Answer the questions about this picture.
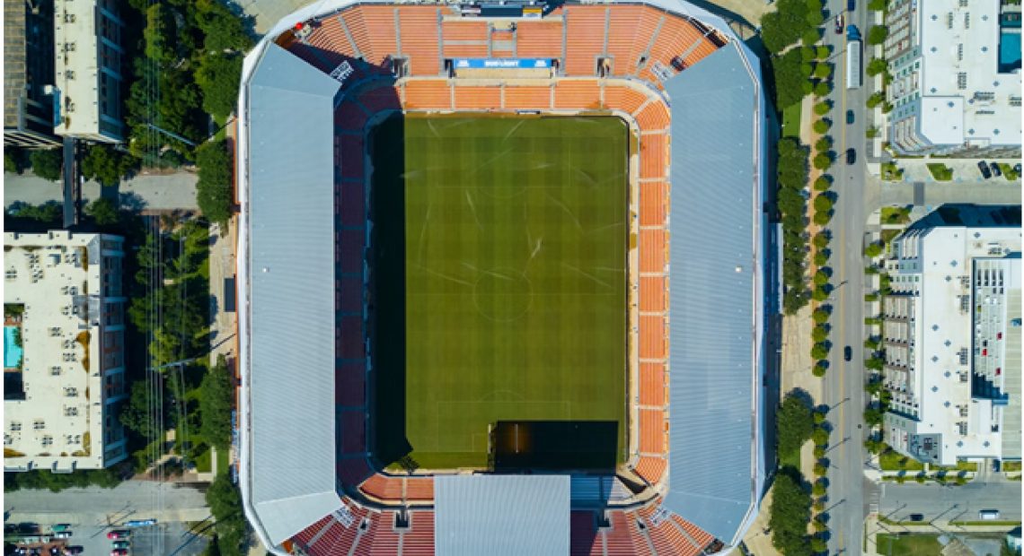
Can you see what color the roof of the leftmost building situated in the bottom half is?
white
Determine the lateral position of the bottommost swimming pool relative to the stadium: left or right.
to its left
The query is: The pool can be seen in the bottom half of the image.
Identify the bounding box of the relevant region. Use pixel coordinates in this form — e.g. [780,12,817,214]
[0,314,22,375]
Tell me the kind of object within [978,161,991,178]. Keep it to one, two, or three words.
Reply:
vehicle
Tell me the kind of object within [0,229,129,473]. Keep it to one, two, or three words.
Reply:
building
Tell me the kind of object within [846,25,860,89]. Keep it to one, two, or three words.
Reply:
vehicle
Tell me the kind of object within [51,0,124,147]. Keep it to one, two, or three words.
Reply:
building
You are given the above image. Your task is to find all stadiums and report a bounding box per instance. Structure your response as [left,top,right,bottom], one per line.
[238,0,767,556]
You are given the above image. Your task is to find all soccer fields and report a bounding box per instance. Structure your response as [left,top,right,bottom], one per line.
[371,110,627,469]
